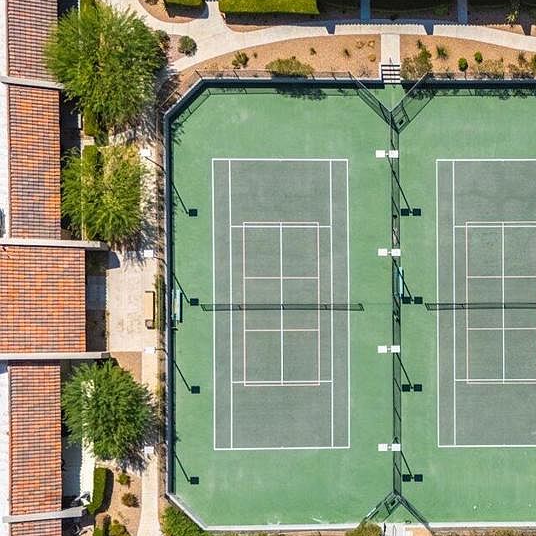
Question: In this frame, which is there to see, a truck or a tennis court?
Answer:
tennis court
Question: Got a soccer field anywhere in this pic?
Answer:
No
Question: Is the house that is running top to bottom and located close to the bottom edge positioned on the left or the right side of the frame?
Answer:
left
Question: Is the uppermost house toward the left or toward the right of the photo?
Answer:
left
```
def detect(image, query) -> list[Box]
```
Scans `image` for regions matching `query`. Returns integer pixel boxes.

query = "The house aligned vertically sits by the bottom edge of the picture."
[0,360,62,514]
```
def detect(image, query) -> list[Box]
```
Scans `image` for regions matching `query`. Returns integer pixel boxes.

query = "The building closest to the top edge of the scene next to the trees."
[0,0,58,82]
